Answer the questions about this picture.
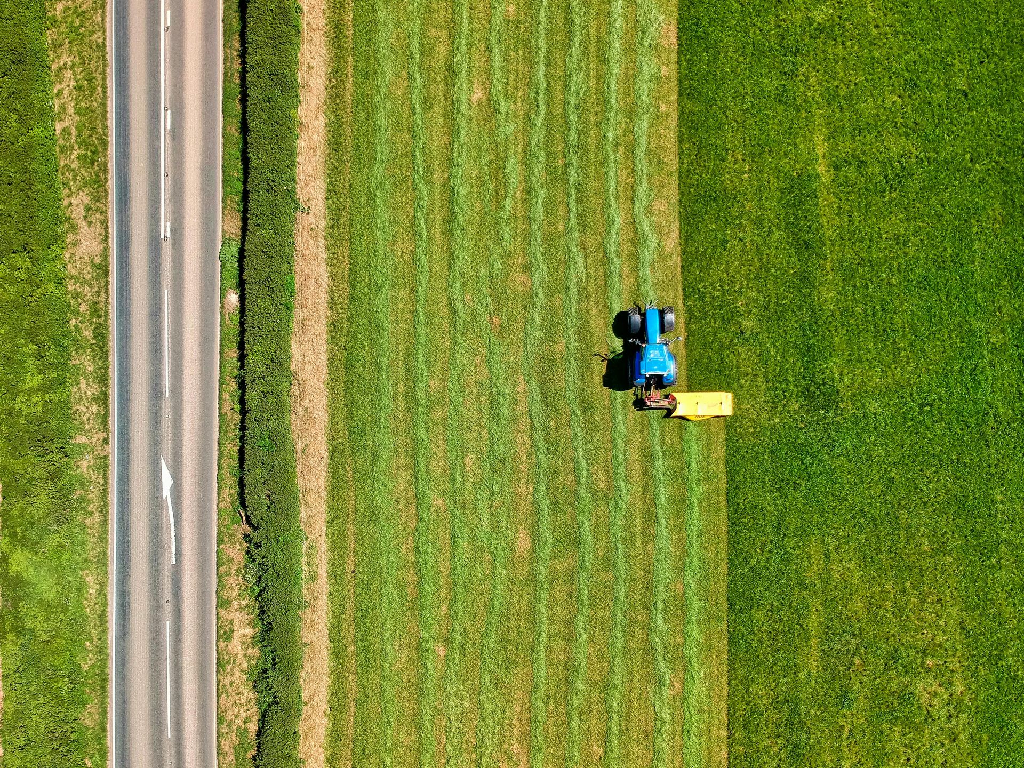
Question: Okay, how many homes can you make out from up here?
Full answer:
I count no homes.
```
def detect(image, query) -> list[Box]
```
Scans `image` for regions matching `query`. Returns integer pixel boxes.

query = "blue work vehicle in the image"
[625,298,682,393]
